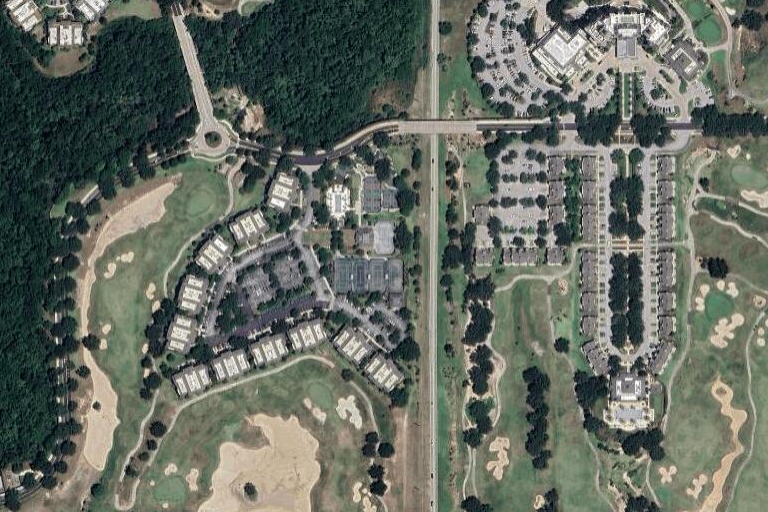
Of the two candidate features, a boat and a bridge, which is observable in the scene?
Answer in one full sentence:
The image shows a bridge.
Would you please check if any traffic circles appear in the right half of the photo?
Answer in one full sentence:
No, I see no traffic circle in the right half of the photo.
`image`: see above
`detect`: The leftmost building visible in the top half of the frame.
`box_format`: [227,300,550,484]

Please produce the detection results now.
[6,0,41,31]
